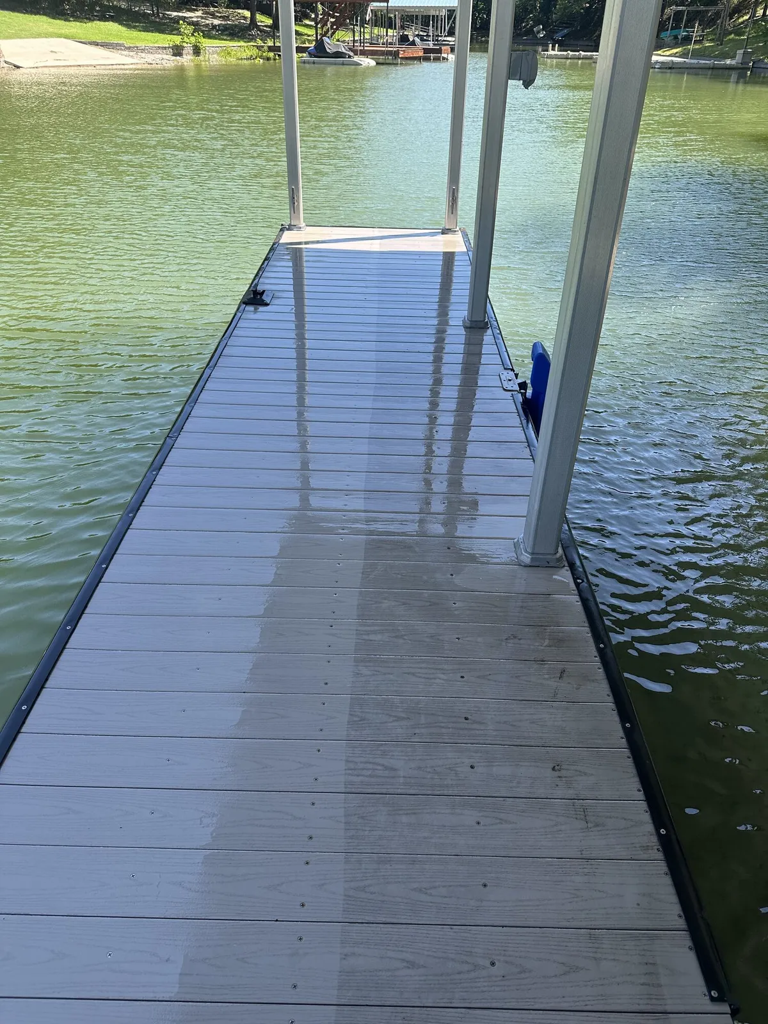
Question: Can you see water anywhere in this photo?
Yes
